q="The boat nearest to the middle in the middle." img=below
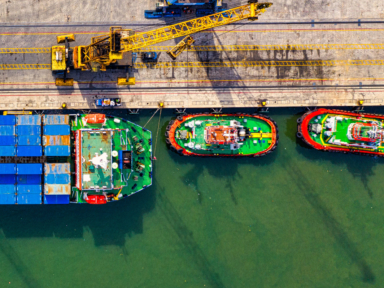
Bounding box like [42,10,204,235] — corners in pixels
[163,110,281,159]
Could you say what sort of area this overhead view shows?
port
